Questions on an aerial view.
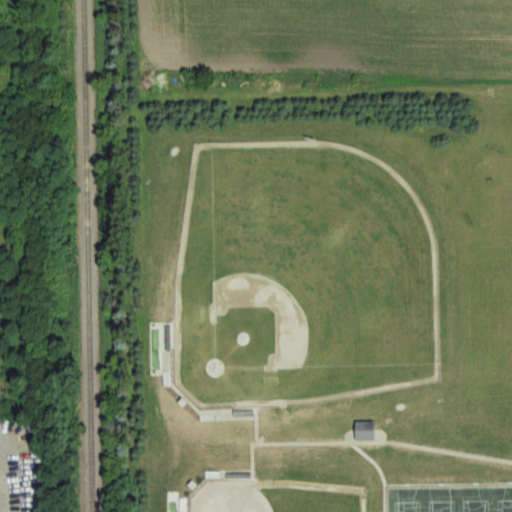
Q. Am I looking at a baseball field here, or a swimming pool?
baseball field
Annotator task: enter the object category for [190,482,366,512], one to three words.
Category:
baseball field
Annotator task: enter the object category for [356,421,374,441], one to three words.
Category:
building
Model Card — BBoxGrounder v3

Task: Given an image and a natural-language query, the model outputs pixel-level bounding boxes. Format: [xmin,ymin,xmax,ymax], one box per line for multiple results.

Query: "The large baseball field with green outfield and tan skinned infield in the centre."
[175,141,440,407]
